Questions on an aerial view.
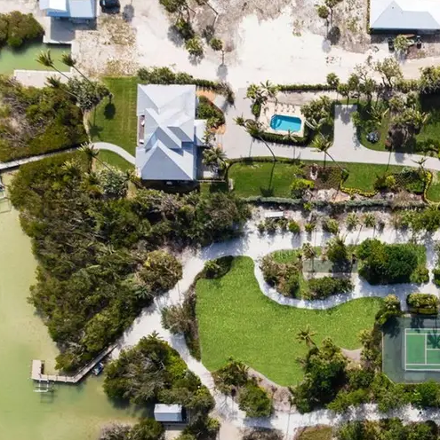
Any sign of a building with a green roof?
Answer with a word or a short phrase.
No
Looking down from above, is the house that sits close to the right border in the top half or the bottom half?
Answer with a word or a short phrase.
top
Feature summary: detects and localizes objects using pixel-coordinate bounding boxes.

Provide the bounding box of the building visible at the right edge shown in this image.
[369,0,440,31]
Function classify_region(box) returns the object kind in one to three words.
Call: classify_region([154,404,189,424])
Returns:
building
